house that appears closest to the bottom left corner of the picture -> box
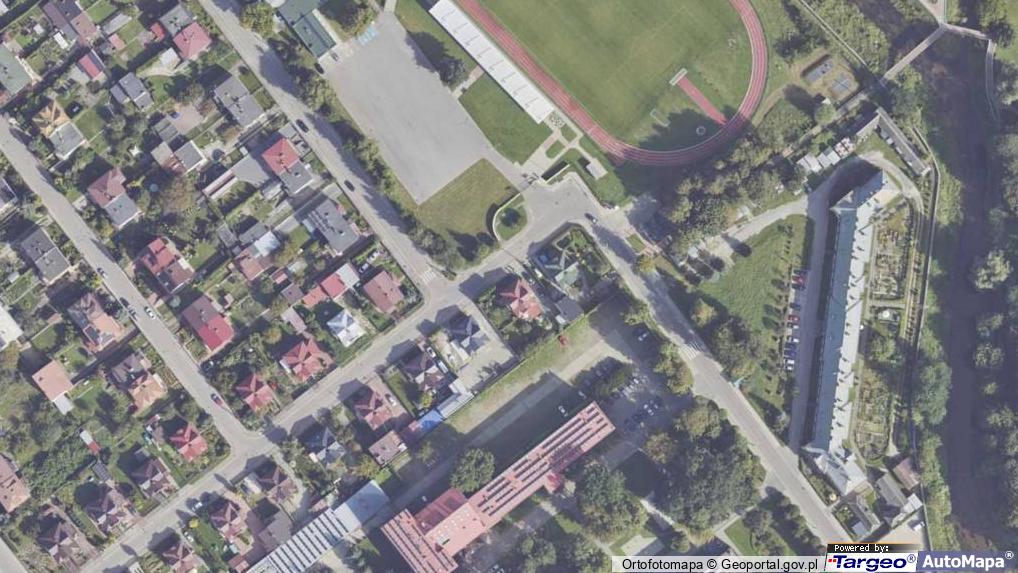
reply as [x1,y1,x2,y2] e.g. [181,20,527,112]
[39,520,81,564]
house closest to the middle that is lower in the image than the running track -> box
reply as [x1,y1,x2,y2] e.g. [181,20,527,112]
[500,281,544,322]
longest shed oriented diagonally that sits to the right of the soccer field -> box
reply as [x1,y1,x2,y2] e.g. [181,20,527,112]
[881,112,931,175]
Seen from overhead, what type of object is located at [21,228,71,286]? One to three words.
house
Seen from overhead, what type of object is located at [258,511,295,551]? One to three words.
building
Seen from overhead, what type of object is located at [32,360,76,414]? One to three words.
house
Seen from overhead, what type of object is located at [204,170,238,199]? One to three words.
shed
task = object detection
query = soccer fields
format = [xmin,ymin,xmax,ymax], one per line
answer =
[477,0,752,150]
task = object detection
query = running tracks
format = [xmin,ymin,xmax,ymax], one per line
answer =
[458,0,767,166]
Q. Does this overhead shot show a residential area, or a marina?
residential area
